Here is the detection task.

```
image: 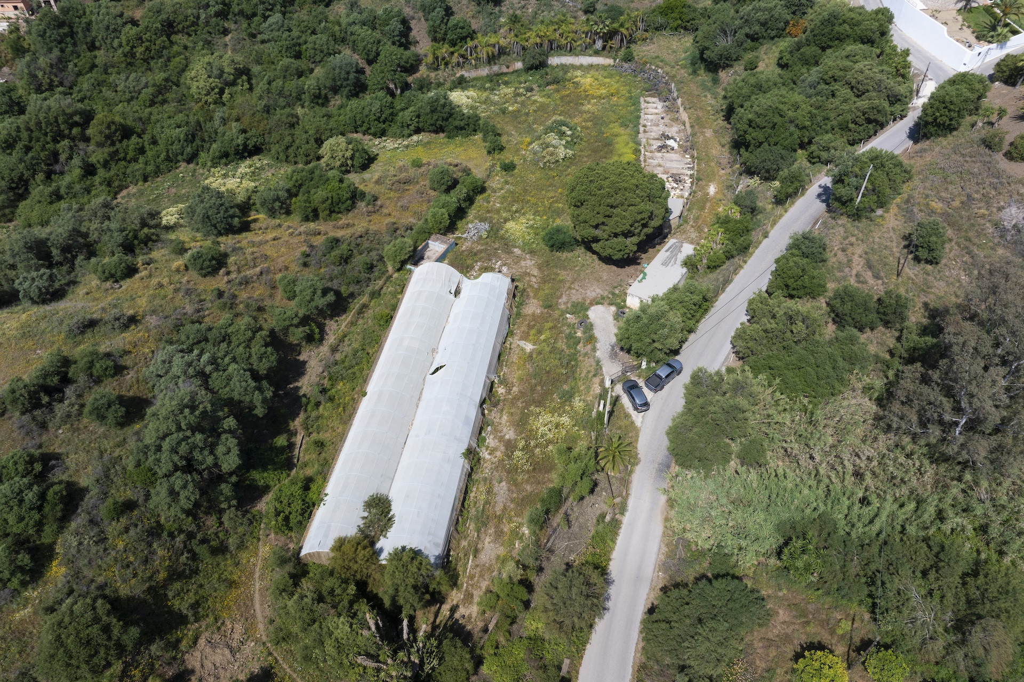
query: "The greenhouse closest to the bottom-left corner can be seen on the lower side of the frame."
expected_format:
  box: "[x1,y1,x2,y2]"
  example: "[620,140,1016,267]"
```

[300,263,519,577]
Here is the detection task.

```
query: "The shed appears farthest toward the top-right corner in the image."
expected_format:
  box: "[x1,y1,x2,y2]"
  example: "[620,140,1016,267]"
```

[662,198,684,237]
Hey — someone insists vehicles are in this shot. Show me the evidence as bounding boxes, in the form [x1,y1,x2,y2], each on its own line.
[641,356,687,393]
[621,376,652,412]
